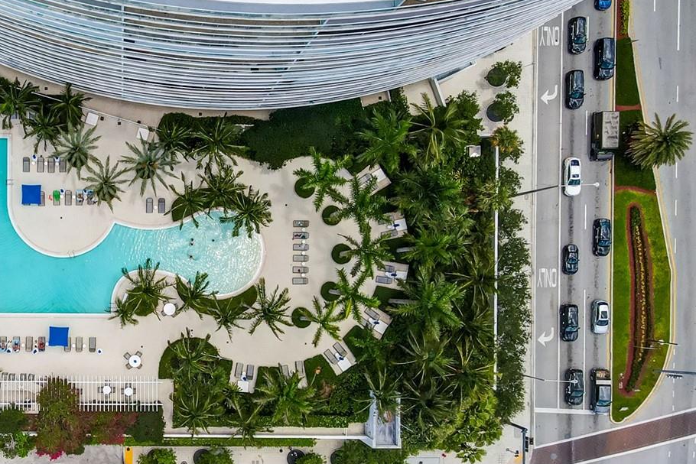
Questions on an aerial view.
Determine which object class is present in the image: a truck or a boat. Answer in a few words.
truck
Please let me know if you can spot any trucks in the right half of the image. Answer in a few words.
Yes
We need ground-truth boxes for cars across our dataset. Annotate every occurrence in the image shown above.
[560,244,580,276]
[592,36,617,80]
[591,216,612,256]
[564,13,588,55]
[561,158,580,197]
[588,300,610,334]
[563,68,587,110]
[592,0,613,14]
[557,304,580,342]
[563,367,586,407]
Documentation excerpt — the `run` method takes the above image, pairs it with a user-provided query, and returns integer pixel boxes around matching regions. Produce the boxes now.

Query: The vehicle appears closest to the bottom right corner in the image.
[588,370,612,415]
